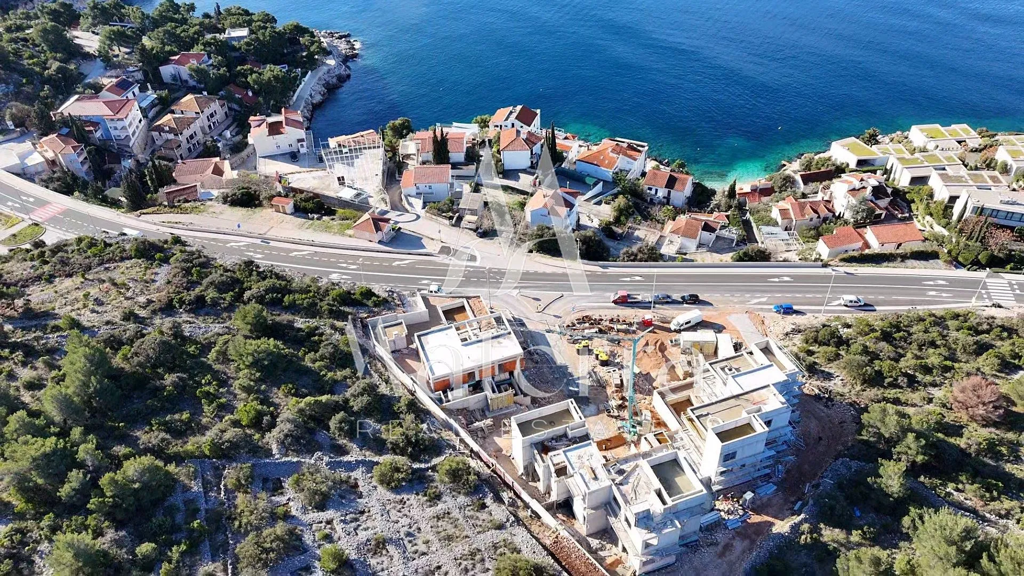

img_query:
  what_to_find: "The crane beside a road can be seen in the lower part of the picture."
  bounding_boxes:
[520,325,663,440]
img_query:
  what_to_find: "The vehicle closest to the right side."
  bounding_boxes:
[839,294,867,307]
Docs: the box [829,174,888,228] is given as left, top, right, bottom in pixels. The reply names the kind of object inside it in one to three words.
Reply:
house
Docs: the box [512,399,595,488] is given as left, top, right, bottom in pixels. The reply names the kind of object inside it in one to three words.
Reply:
building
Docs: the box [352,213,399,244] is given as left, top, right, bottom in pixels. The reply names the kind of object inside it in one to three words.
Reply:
house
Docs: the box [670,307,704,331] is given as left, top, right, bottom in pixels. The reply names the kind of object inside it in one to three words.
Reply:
vehicle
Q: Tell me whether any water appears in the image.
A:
Yes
